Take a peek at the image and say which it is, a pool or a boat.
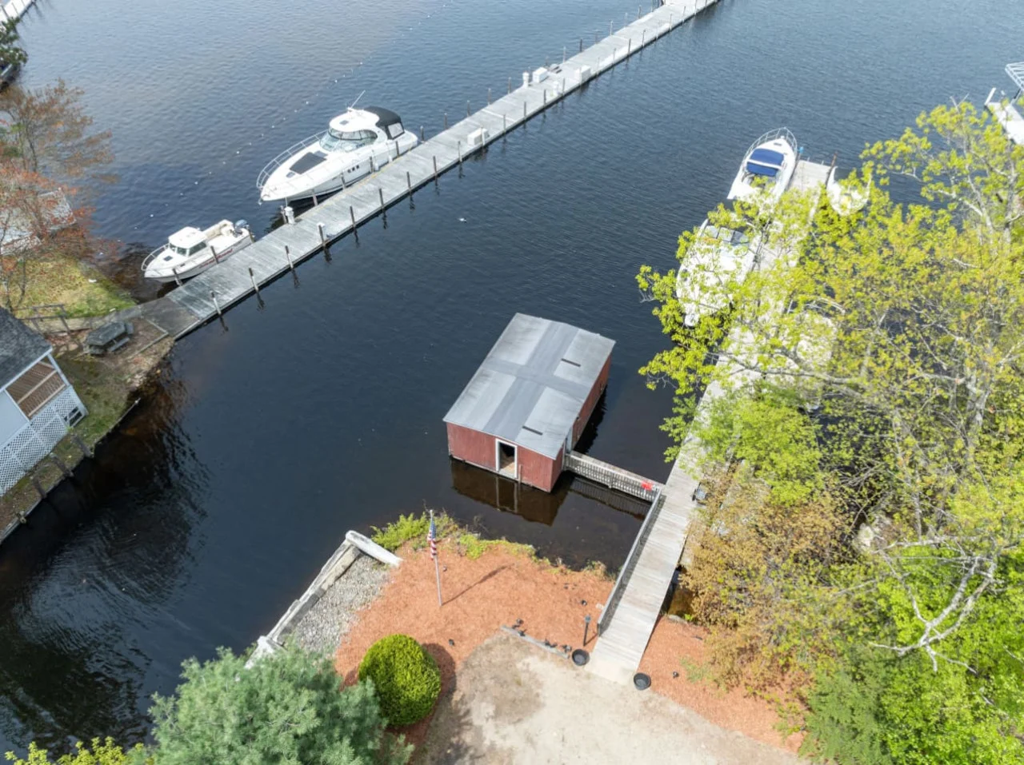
boat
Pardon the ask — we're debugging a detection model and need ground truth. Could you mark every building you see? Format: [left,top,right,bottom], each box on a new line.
[0,310,89,496]
[440,318,614,517]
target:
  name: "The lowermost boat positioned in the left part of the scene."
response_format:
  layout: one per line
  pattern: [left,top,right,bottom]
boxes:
[149,213,259,282]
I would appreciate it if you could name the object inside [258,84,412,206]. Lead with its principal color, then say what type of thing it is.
white boat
